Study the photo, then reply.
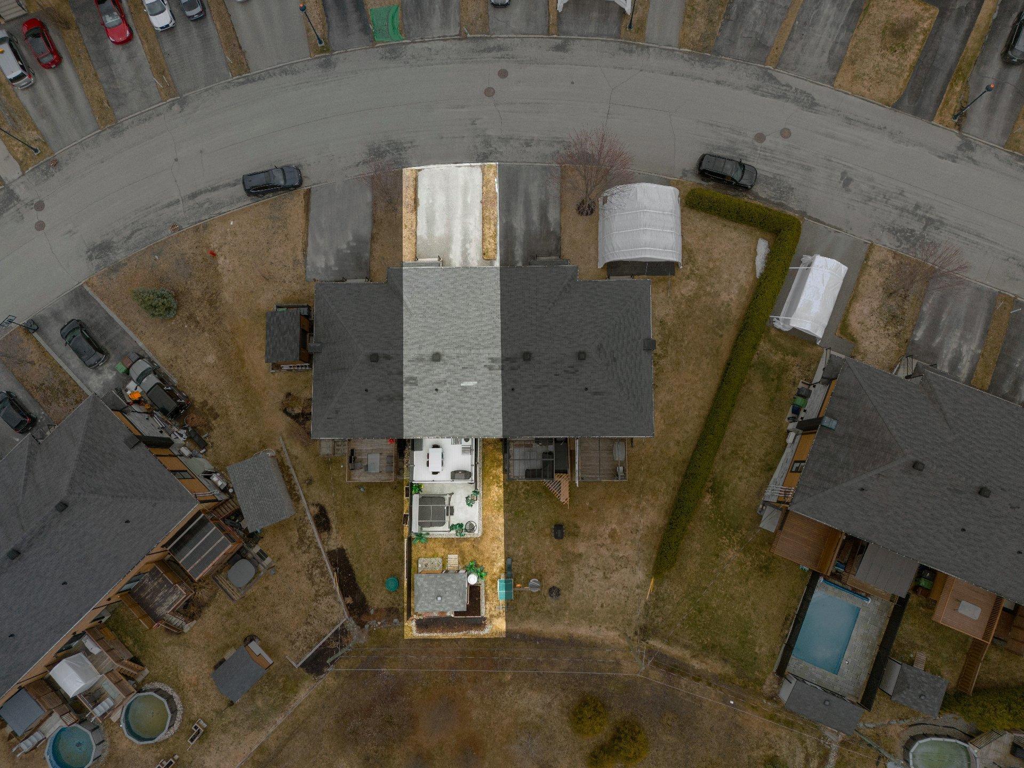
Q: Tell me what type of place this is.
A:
residential area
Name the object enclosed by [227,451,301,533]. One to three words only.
shed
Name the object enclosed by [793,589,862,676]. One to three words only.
swimming pool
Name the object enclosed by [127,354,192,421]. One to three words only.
truck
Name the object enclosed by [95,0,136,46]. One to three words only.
car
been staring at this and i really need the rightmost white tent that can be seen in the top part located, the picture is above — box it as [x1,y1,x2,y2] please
[780,256,845,340]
